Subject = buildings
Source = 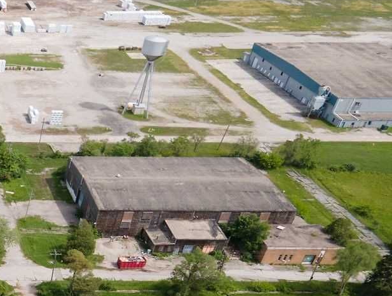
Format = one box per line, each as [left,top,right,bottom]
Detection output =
[251,224,350,266]
[63,156,297,238]
[130,101,148,114]
[246,43,392,128]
